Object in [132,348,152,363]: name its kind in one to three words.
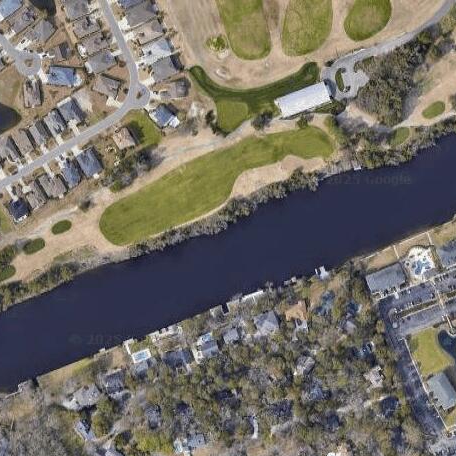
swimming pool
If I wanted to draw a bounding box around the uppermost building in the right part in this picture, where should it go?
[275,81,329,116]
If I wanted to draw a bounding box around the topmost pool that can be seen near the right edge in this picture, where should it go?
[405,245,435,280]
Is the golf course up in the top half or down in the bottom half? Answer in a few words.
top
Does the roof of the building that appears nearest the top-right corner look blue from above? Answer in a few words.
No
